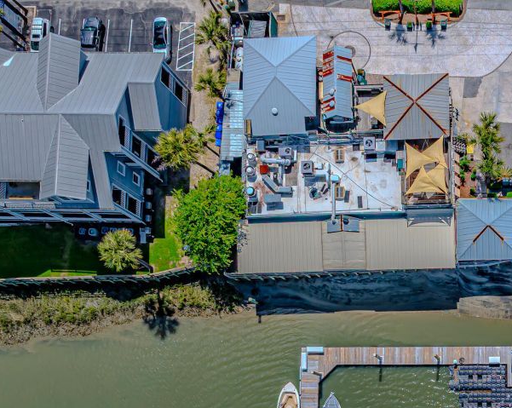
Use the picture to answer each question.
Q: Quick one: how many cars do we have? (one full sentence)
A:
In total, 3 cars can be seen.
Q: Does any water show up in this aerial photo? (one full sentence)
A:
Yes, water shows up in the scene.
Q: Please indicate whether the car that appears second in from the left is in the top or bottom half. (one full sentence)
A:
The top half of the photo is where the car that appears second in from the left is.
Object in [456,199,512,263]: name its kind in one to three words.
building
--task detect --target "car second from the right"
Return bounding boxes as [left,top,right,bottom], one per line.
[81,14,105,52]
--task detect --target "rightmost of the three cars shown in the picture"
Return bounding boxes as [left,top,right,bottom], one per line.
[151,16,174,62]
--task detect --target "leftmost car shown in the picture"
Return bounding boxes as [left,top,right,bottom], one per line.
[24,11,51,52]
